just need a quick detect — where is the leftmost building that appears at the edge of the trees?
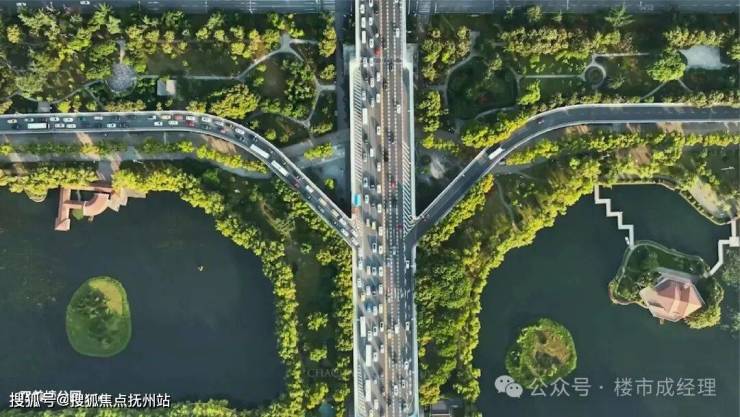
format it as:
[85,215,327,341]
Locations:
[53,179,113,232]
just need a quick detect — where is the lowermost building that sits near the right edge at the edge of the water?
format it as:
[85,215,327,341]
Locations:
[639,268,706,325]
